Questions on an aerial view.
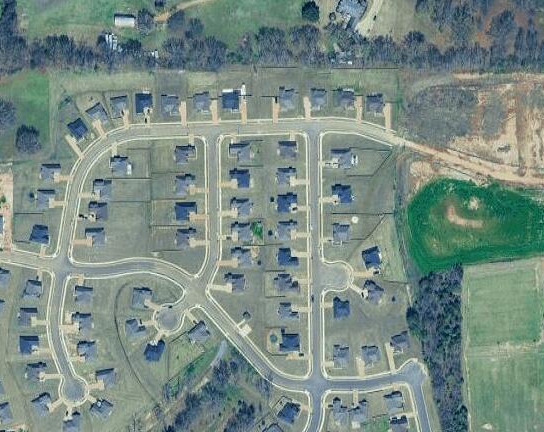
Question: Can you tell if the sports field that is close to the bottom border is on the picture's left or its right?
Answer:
right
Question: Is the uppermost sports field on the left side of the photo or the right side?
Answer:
right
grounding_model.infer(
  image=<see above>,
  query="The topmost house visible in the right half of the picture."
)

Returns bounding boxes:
[334,0,367,21]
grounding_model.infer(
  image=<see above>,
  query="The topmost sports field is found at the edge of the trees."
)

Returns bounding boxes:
[468,267,540,343]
